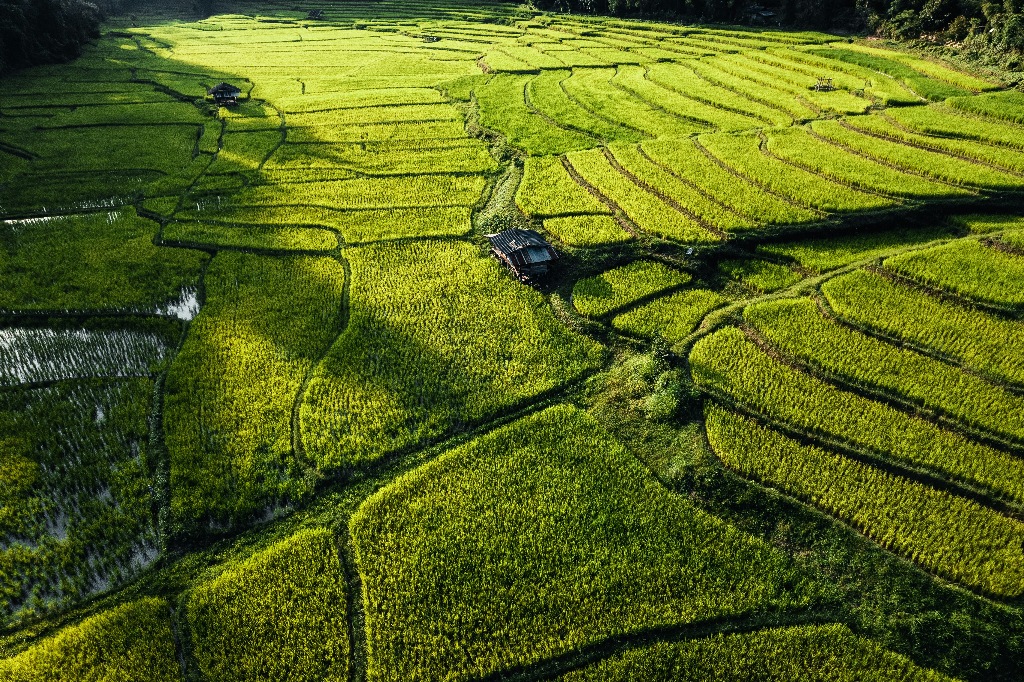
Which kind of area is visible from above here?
farmland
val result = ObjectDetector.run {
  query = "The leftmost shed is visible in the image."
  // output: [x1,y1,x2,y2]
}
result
[205,81,247,107]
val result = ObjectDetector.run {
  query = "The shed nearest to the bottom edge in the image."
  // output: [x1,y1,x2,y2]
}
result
[478,227,559,279]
